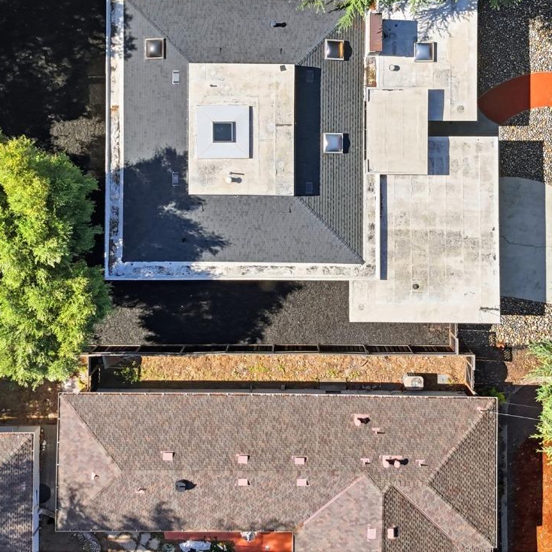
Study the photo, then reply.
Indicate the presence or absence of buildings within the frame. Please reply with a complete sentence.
Yes, there is a building in the image.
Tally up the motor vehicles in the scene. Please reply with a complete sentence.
There are no motor vehicles in this view.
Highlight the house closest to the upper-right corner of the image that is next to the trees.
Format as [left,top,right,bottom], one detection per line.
[106,0,499,323]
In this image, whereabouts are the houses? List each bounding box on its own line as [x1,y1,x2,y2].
[106,0,499,323]
[0,424,42,552]
[53,385,500,552]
